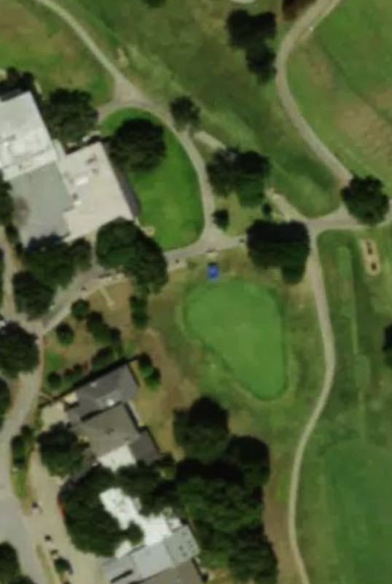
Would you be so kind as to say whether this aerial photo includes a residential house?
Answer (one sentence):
Yes, a residential house can be made out from above.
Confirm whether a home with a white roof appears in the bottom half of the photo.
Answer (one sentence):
Yes, the scene does show a home with a white roof in the bottom half of the photo.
